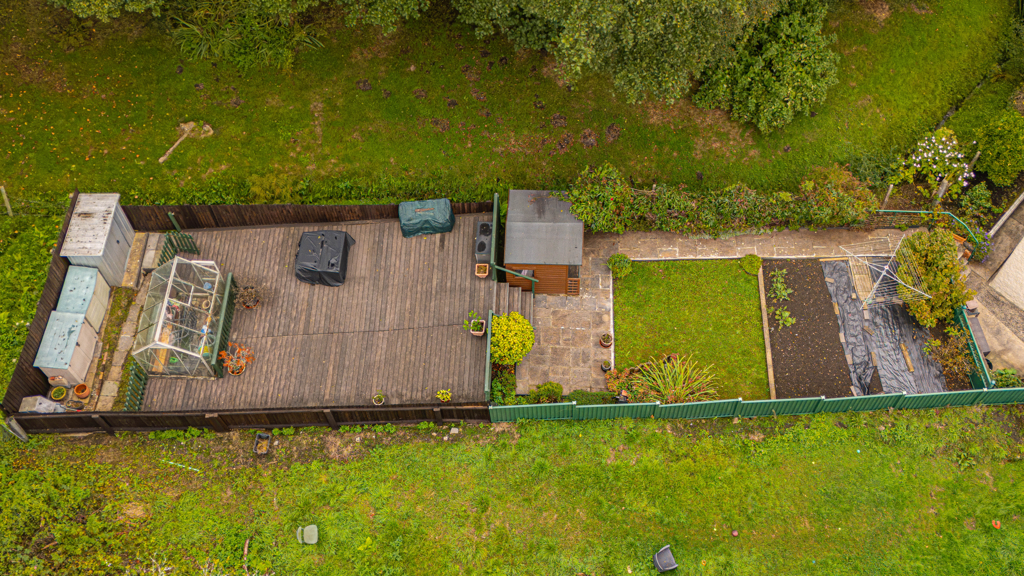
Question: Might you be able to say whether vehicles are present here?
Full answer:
No, the frame has no vehicle in it.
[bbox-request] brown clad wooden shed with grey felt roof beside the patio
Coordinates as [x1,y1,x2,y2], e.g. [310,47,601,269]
[503,196,585,295]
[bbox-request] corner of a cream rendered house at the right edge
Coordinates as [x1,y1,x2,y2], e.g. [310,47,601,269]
[988,234,1024,313]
